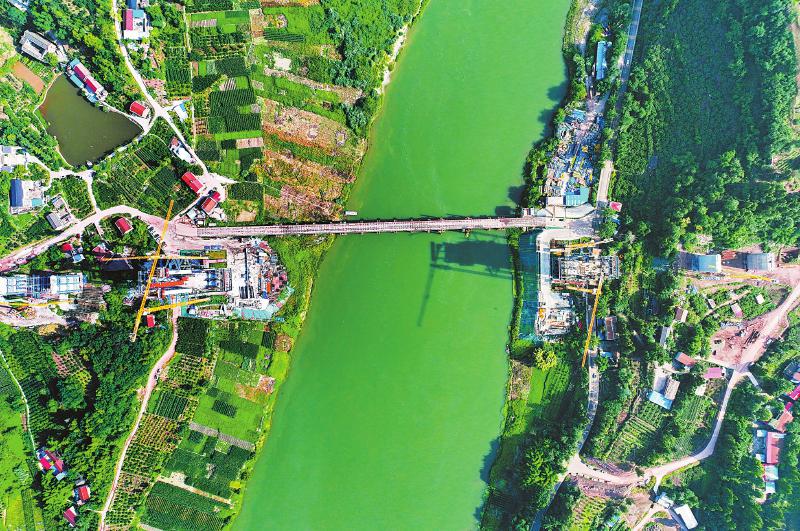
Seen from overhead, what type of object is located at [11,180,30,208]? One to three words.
house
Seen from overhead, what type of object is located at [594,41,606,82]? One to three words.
shed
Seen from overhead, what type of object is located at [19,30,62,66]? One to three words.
house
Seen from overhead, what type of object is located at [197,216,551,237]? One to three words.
bridge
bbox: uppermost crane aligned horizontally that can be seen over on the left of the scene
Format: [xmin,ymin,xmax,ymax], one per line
[100,250,213,263]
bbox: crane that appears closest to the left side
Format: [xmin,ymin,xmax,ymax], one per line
[0,294,79,330]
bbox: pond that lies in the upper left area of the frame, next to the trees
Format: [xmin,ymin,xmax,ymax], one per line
[38,73,143,165]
